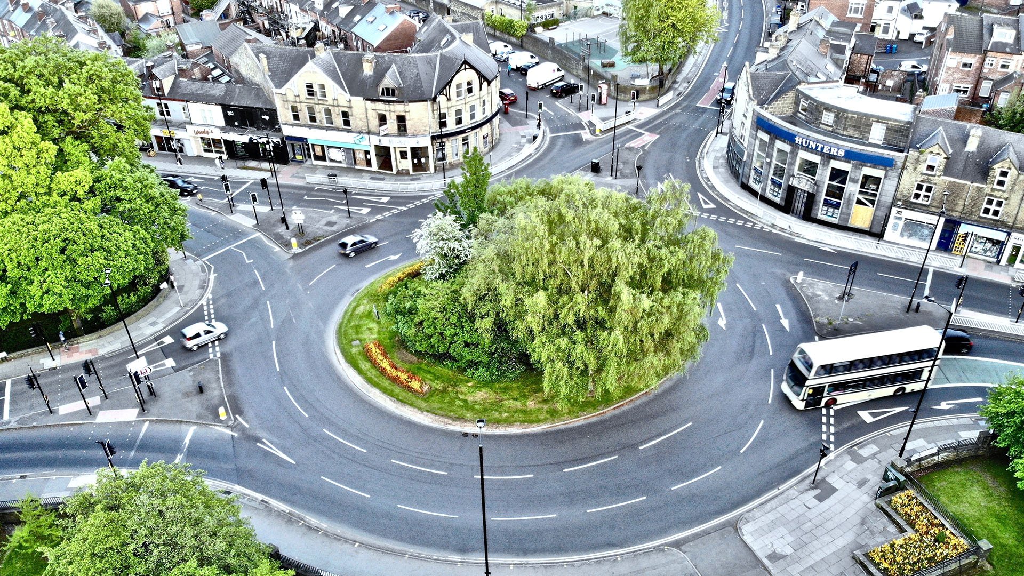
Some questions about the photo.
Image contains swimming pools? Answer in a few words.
No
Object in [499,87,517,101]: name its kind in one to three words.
car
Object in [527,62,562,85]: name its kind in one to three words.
vehicle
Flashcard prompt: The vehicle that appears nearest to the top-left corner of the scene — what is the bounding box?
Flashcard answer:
[159,169,195,192]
